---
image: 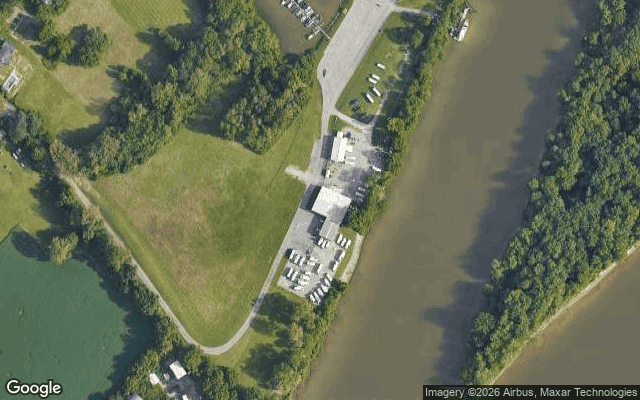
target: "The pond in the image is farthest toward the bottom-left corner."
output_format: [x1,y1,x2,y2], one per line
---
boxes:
[0,226,151,400]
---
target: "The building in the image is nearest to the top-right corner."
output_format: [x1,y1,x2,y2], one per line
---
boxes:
[331,131,352,162]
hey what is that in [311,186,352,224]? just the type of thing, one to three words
building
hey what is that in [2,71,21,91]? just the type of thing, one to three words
swimming pool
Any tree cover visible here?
Yes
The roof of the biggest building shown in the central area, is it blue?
No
